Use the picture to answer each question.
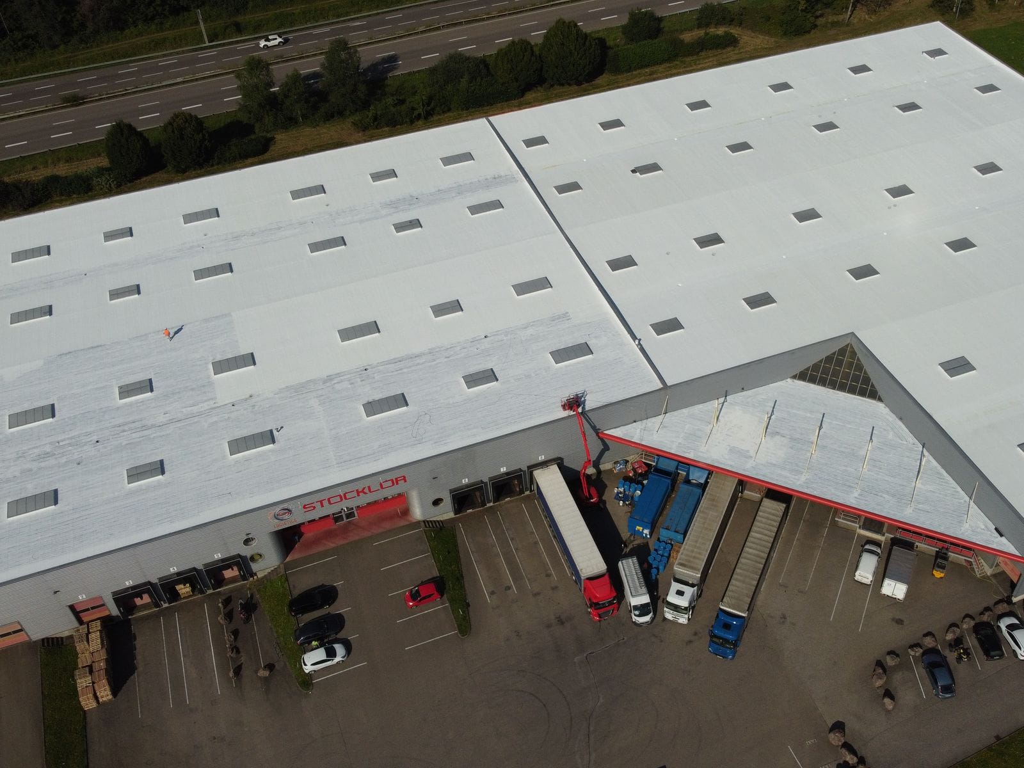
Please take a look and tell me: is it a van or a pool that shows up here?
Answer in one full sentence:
There is a van in the scene.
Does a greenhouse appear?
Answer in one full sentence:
No, there isn't any greenhouse down there.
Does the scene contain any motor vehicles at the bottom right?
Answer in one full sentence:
Yes, I can see a motor vehicle at the bottom right.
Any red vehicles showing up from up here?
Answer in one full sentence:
Yes, there is a red vehicle in the image.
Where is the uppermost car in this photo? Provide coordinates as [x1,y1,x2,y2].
[259,33,283,47]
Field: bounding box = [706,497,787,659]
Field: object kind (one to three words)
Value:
truck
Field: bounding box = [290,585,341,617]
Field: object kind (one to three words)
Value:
car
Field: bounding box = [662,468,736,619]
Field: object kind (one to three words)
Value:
truck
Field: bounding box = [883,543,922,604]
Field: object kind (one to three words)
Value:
van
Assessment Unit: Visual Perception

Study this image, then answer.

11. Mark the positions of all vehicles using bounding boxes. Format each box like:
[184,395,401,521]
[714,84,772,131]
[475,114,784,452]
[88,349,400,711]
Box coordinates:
[933,545,953,576]
[922,646,961,698]
[951,639,973,661]
[883,543,922,604]
[706,497,787,659]
[615,555,656,623]
[290,585,341,617]
[998,608,1024,655]
[969,618,1006,664]
[662,468,736,619]
[401,580,444,610]
[296,612,347,644]
[259,33,283,47]
[853,545,884,589]
[298,642,348,675]
[534,464,620,621]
